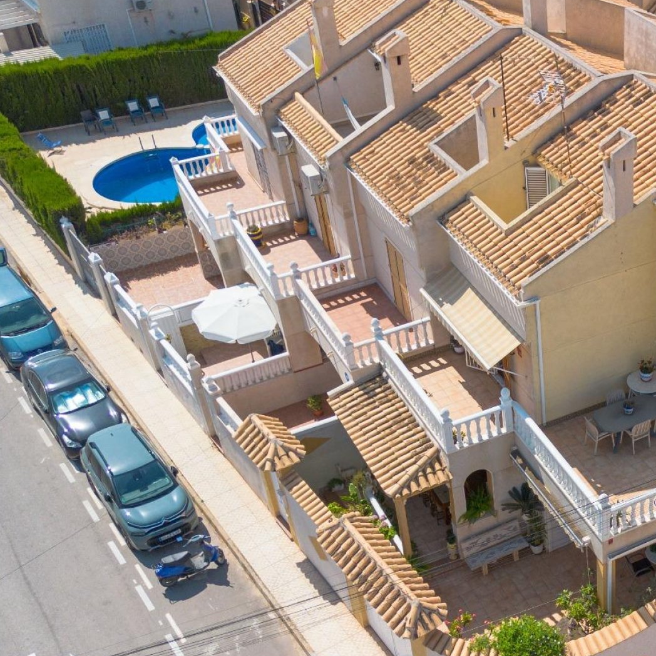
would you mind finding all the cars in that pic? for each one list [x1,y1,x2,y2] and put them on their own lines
[0,273,76,386]
[25,351,133,464]
[83,426,208,561]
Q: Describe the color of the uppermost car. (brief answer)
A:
blue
